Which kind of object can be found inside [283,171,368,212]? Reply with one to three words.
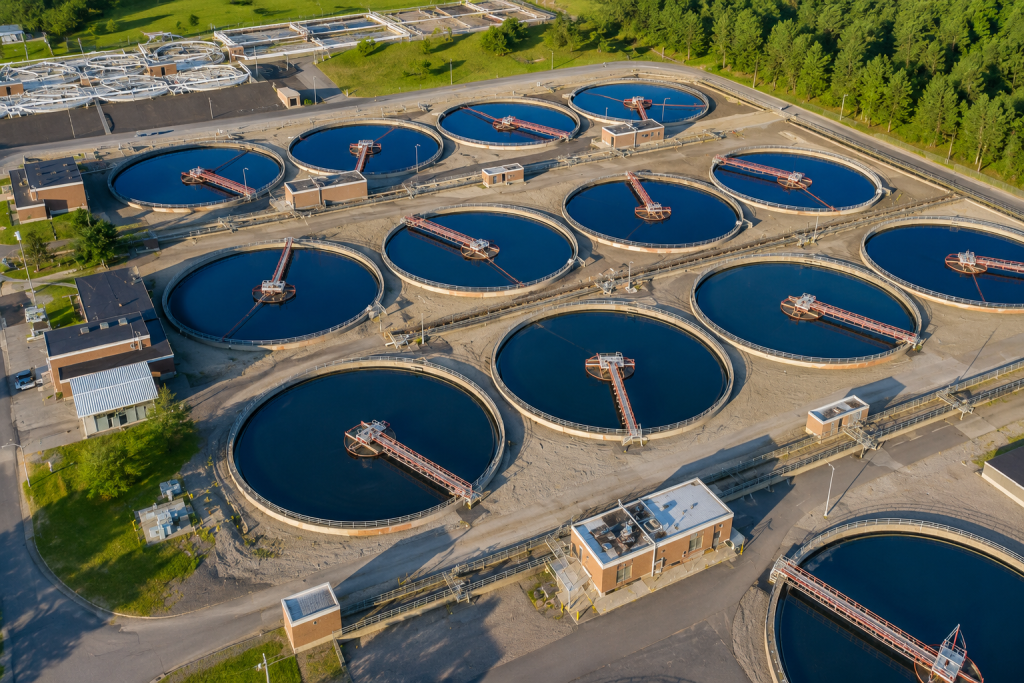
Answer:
house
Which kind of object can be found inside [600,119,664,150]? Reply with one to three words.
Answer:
building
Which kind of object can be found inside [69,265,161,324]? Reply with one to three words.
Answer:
building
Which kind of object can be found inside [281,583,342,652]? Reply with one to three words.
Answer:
shed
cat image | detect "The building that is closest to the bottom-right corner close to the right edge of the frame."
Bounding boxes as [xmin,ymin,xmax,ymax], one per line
[977,445,1024,513]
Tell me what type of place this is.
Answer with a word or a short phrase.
industrial area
